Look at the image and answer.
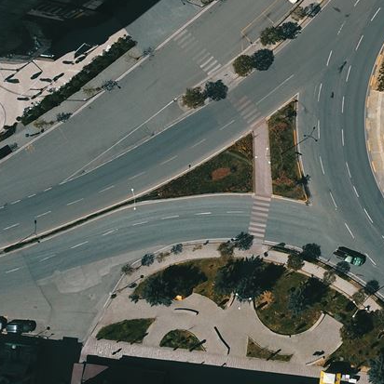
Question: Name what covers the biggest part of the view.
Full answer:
The largest share of the image is taken up by paved ground.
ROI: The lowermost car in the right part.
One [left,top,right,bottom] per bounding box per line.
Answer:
[335,249,363,268]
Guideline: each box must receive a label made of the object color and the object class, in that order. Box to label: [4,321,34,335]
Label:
black vehicle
